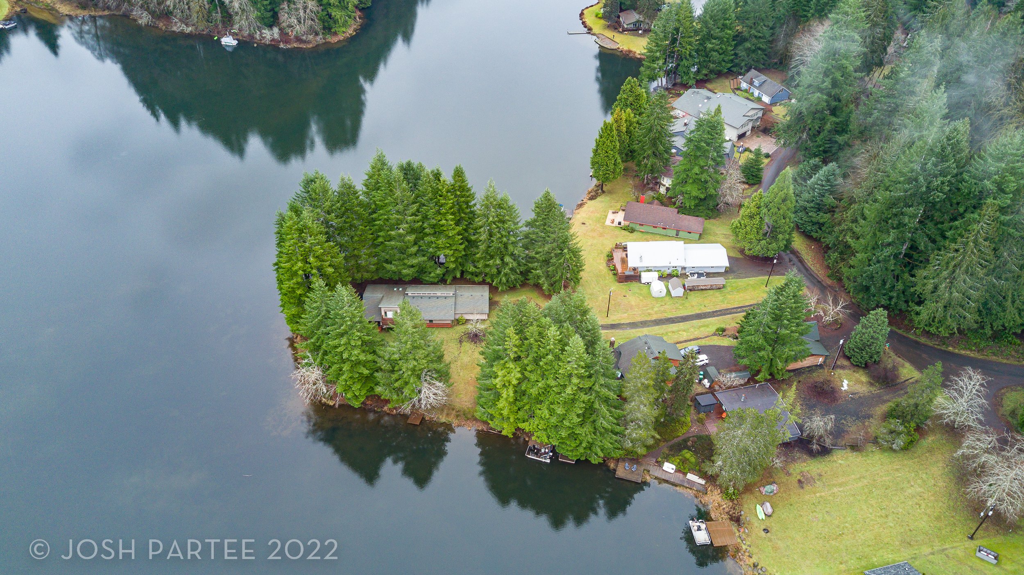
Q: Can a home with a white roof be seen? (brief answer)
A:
Yes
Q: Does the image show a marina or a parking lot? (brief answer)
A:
marina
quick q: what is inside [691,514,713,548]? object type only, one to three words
boat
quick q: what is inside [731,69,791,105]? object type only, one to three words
house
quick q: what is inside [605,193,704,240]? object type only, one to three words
building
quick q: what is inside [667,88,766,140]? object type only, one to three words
house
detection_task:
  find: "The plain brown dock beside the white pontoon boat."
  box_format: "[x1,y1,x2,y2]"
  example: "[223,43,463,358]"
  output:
[705,521,738,549]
